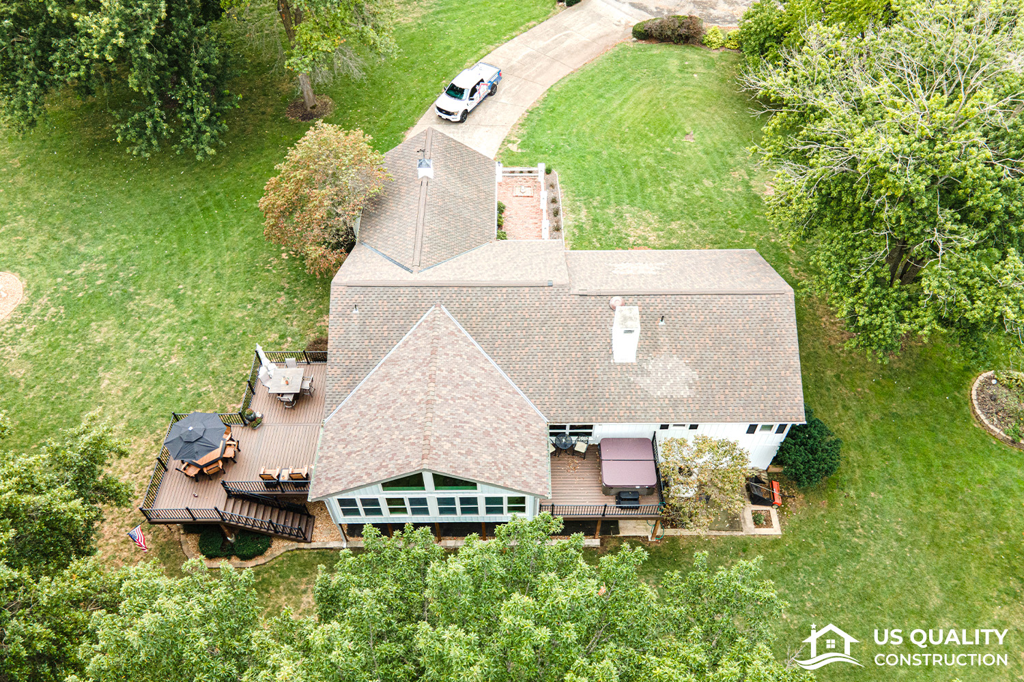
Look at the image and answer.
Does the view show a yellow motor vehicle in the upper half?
No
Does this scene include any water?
No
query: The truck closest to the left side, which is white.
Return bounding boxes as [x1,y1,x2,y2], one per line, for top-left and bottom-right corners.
[430,62,503,123]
